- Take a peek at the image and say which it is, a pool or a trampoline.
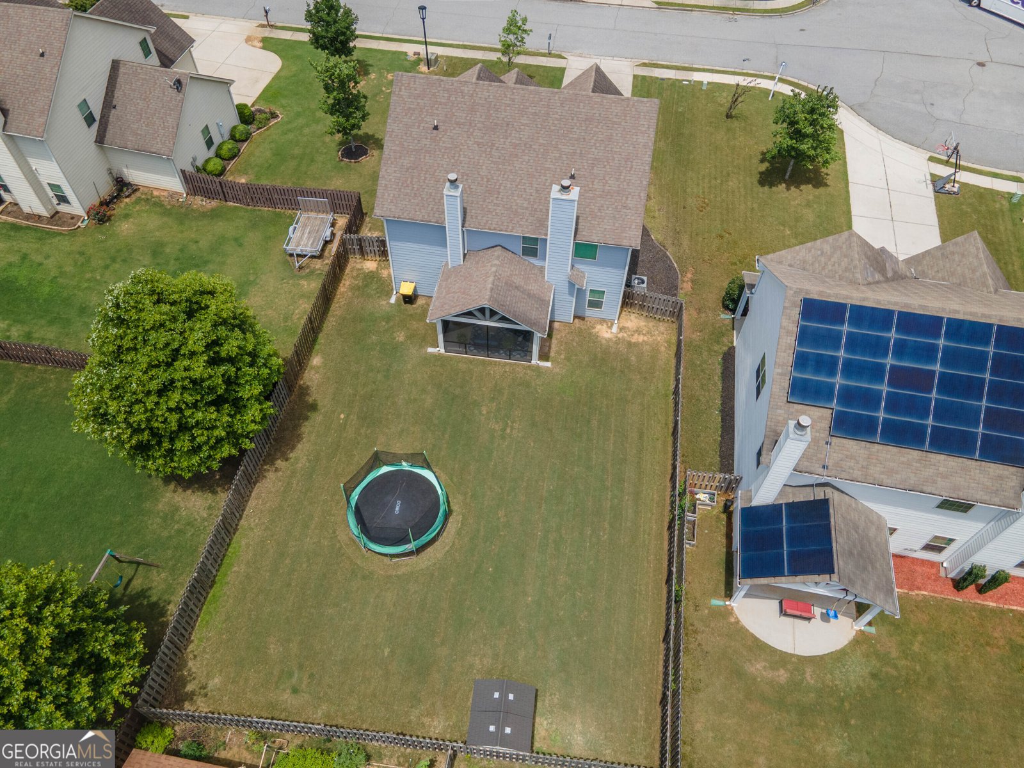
trampoline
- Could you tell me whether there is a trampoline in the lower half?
Yes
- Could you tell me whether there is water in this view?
No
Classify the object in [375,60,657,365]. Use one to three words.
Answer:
house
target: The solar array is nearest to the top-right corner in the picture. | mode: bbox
[791,296,1024,465]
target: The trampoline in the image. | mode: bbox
[340,448,448,560]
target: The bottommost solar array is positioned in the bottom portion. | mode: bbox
[739,493,825,579]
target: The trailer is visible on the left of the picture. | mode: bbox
[287,199,331,269]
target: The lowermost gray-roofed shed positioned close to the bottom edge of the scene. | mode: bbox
[466,676,536,754]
